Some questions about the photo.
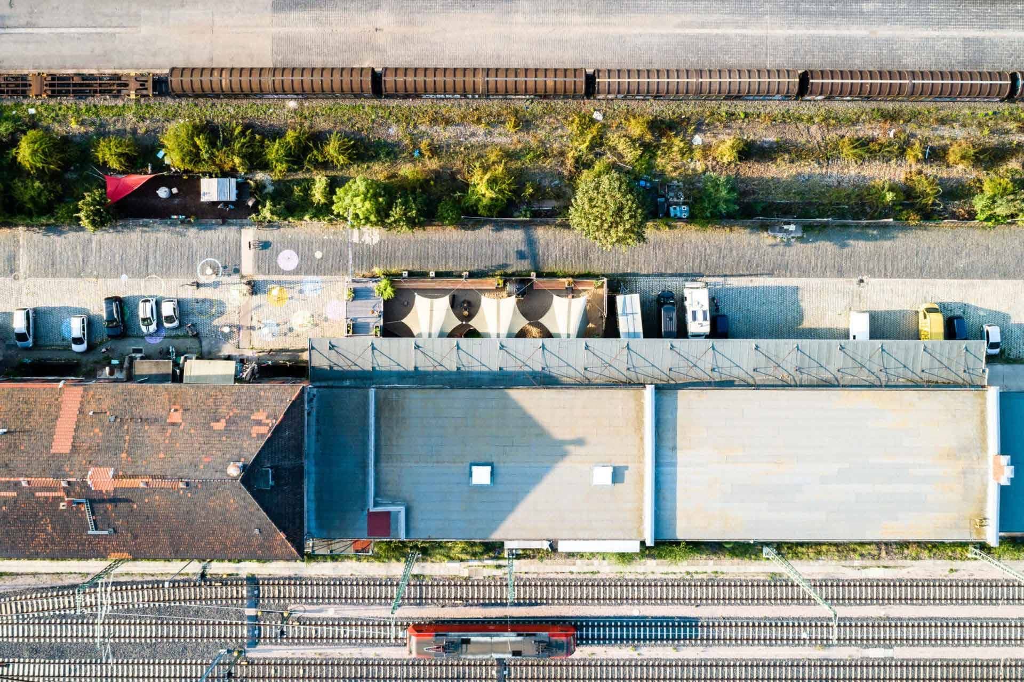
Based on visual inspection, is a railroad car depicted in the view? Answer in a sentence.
Yes, you can see a railroad car in this photo.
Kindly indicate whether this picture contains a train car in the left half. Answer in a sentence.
Yes, I can see a train car in the left half.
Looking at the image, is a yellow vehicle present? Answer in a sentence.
Yes, the image includes a yellow vehicle.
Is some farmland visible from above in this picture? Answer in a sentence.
No, there's no farmland in this view.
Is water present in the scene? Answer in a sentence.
No, water can't be seen anywhere here.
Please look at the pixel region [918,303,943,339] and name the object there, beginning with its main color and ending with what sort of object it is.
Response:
yellow vehicle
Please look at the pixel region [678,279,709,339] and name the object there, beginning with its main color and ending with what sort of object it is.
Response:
white camper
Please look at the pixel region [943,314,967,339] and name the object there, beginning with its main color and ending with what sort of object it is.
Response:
blue car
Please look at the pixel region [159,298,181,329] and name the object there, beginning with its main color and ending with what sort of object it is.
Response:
white car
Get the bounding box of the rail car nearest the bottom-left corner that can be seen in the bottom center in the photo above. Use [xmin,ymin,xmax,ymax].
[406,623,580,660]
